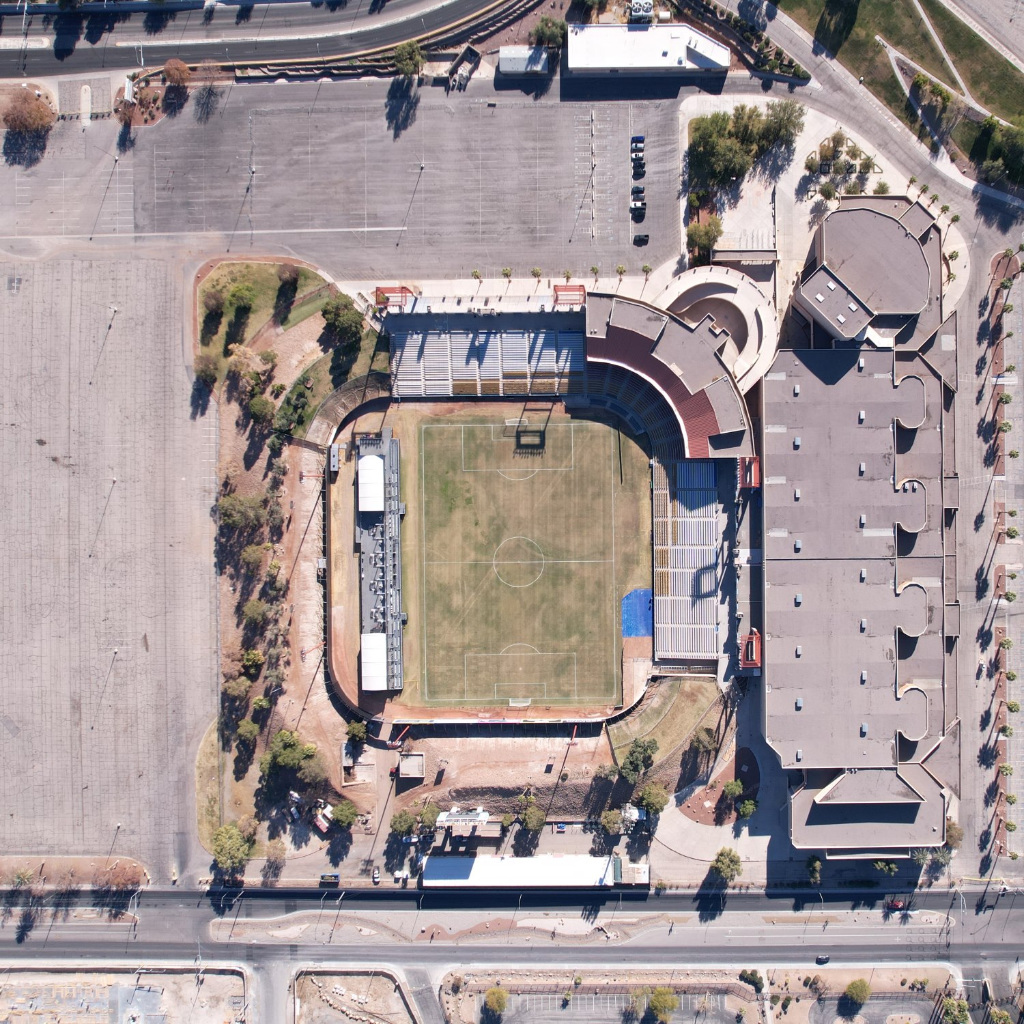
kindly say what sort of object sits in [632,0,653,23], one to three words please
cooling tower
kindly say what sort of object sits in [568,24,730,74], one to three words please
building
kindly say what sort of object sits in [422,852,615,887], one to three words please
shed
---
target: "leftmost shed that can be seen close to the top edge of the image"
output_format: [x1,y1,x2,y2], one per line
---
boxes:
[499,45,549,78]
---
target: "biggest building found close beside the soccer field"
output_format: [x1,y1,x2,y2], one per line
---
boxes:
[758,312,960,858]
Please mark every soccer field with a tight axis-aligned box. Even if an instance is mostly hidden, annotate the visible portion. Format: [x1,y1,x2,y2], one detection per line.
[417,411,653,708]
